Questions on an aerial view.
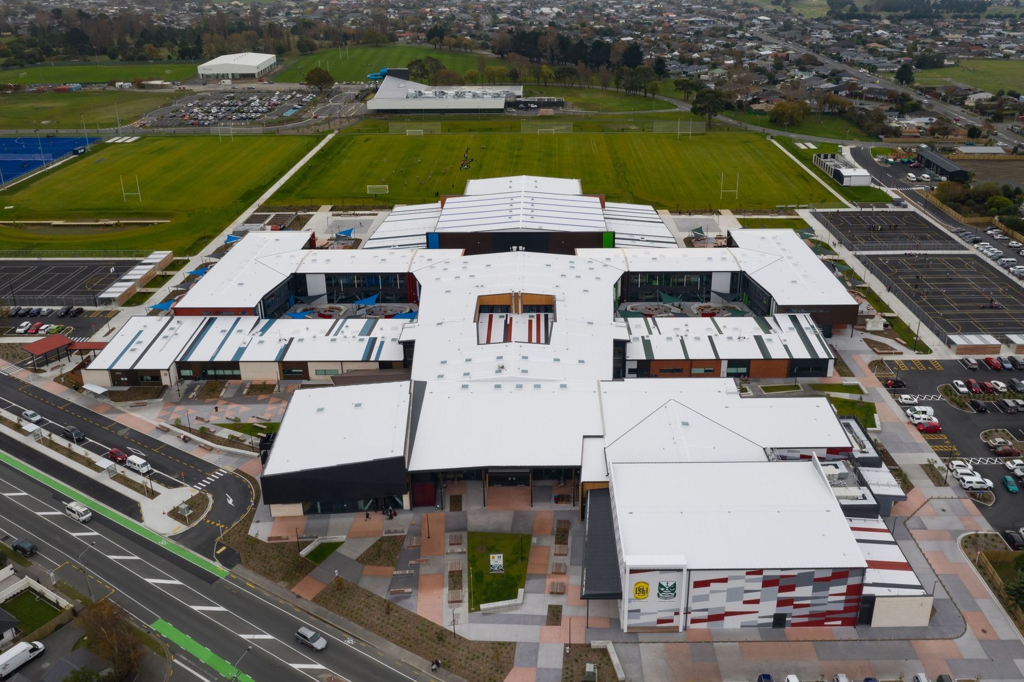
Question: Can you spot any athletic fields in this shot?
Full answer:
Yes, the image includes an athletic field.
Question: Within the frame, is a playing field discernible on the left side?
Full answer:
Yes, a playing field shows up on the left side.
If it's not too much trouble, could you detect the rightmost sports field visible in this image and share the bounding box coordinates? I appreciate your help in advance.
[268,132,843,209]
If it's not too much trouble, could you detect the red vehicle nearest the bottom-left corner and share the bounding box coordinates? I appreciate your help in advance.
[106,446,127,462]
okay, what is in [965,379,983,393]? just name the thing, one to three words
car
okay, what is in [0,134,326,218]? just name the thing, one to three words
sports field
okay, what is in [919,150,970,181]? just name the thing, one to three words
shed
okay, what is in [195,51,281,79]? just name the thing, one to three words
building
